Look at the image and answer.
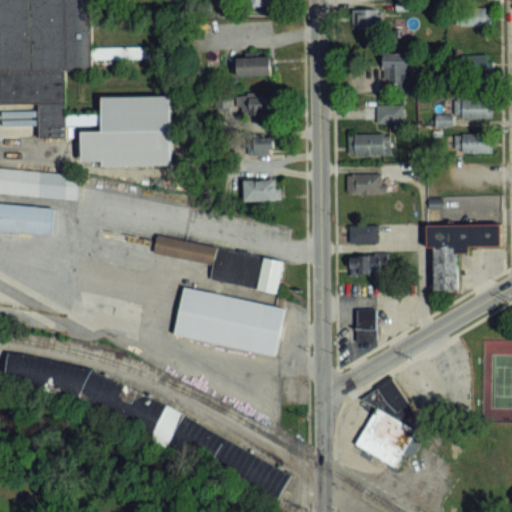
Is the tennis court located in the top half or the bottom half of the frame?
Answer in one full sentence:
The bottom half of the photo is where the tennis court is.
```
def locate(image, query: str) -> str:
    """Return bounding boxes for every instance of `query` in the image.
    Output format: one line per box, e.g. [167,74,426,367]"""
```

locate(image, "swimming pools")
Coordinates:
[434,104,446,114]
[407,16,422,30]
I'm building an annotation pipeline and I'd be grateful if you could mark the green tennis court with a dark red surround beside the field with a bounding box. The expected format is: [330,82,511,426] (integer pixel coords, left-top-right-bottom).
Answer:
[484,341,512,422]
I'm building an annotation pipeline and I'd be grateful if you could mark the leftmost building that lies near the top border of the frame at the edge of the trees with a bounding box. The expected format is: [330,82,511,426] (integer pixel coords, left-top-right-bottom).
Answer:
[0,0,92,138]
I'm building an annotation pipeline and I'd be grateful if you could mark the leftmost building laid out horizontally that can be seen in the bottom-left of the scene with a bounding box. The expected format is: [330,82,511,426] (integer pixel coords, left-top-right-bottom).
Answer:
[2,351,94,396]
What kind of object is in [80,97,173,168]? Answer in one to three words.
building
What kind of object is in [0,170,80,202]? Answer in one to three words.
shed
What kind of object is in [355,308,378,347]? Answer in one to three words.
building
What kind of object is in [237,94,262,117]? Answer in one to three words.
house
